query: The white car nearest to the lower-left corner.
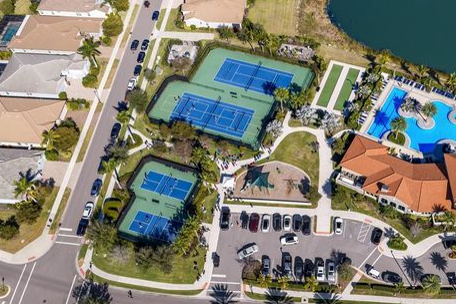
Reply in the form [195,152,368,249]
[82,201,94,218]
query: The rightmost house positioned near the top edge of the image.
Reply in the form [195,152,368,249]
[181,0,246,28]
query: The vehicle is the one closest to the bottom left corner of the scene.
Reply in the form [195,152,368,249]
[76,218,89,238]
